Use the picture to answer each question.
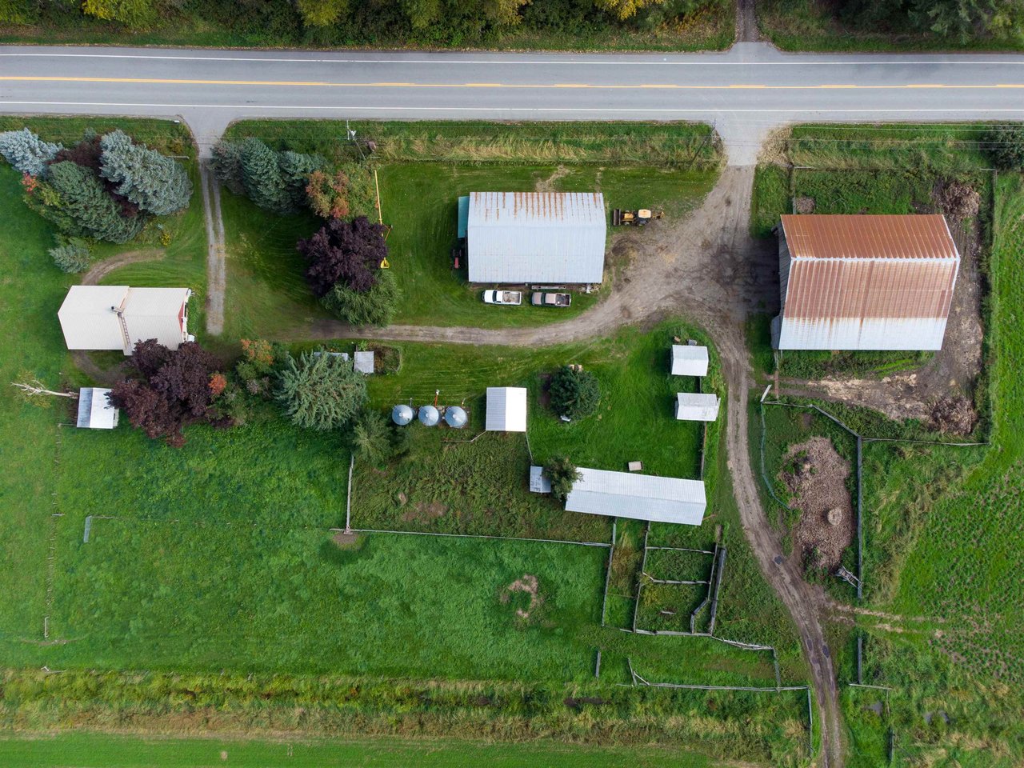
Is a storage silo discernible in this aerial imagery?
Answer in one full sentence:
Yes, this view includes a storage silo.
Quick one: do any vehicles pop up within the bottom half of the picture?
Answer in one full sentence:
No, there is no vehicle within the bottom half of the picture.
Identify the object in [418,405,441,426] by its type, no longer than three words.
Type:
silo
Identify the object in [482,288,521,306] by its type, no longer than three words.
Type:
vehicle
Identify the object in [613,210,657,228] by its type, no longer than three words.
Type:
work vehicle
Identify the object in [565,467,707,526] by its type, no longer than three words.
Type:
shed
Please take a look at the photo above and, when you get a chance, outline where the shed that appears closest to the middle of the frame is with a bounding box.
[486,387,527,432]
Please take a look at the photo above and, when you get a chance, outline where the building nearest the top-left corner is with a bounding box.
[58,285,194,357]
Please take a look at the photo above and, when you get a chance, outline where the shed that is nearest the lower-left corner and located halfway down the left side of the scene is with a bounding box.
[77,388,122,429]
